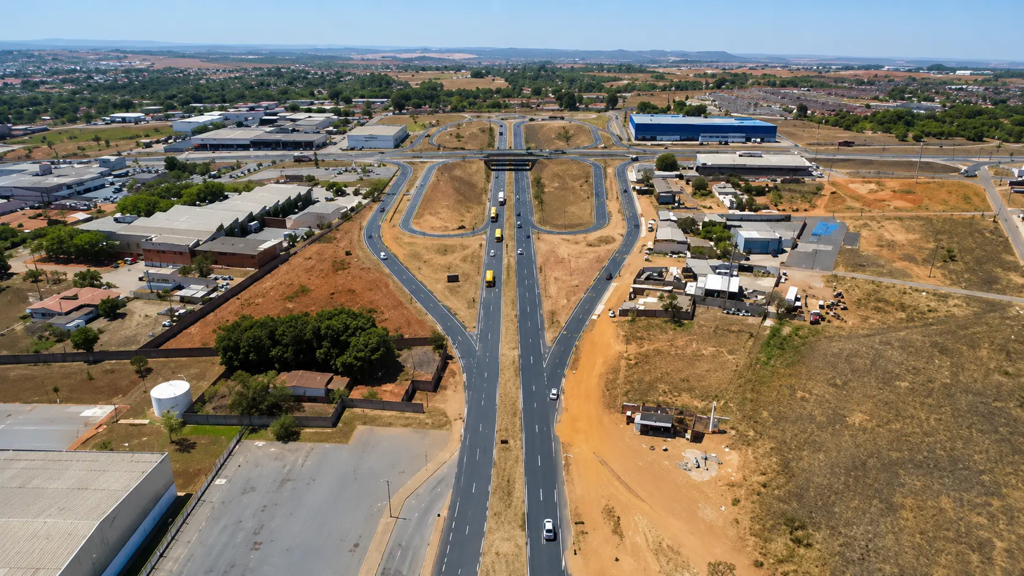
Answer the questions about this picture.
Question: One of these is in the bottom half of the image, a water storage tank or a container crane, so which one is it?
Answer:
water storage tank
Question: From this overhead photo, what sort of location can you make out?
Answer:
residential area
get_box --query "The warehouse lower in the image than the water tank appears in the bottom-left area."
[0,449,177,576]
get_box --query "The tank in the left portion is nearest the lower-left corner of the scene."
[151,370,201,418]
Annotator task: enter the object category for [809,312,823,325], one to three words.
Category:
vehicle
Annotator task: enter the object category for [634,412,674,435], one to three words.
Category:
shed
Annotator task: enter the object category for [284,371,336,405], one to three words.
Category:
house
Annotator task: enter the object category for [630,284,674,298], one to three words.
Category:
building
